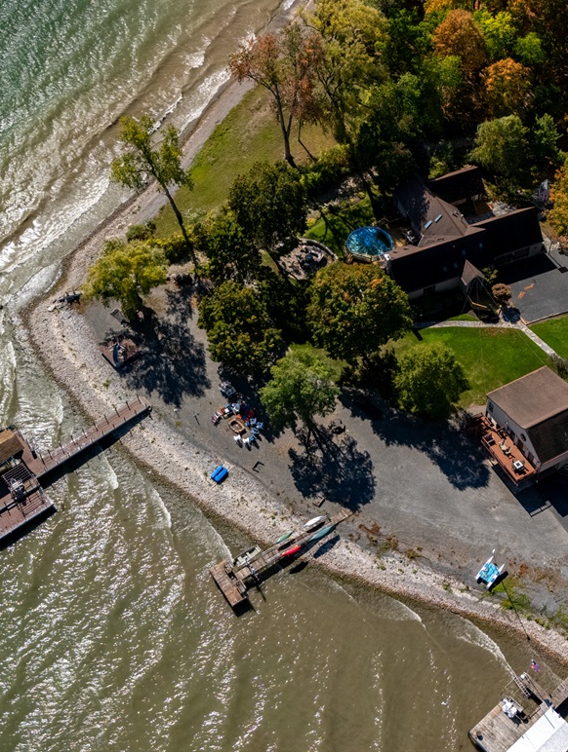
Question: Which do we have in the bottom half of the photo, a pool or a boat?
boat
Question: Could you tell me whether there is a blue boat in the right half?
Yes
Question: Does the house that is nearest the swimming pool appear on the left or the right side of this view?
right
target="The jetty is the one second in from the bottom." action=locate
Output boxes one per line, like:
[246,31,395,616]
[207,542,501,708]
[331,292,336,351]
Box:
[210,507,353,610]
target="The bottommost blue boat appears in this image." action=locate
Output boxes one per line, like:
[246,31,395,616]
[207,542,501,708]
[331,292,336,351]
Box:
[477,544,504,587]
